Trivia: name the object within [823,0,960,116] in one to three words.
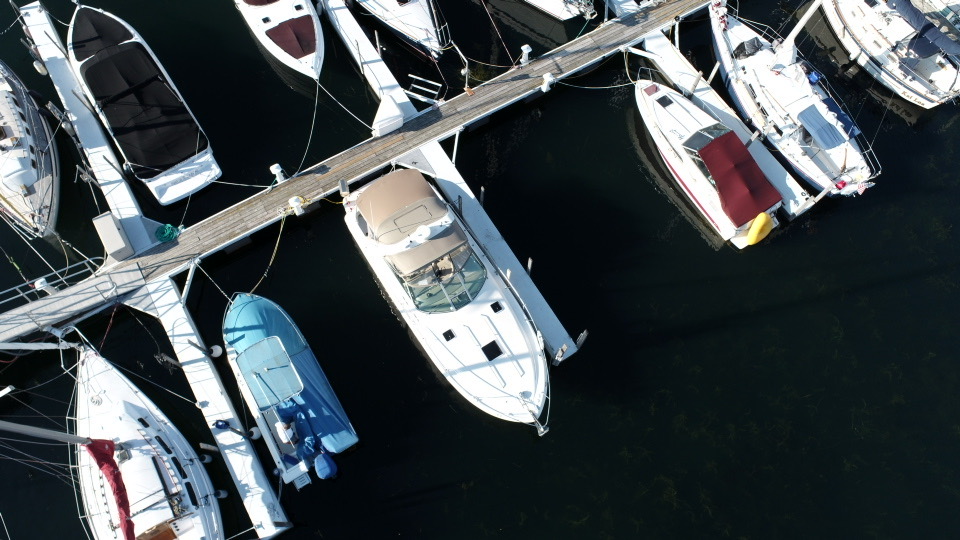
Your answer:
boat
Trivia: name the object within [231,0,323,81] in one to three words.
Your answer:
boat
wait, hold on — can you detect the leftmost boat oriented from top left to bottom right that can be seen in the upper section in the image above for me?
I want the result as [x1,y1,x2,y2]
[68,0,224,214]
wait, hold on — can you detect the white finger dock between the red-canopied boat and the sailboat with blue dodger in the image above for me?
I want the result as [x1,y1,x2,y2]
[640,32,818,219]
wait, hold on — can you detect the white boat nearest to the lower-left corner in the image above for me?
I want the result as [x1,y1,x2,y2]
[0,329,237,540]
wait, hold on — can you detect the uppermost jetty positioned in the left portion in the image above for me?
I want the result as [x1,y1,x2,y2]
[322,0,418,121]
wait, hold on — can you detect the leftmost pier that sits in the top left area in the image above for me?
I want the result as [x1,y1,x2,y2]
[20,1,153,258]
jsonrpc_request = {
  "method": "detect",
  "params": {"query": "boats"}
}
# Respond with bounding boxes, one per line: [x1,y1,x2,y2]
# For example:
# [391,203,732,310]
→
[823,0,960,116]
[0,329,237,540]
[362,0,444,55]
[224,286,358,490]
[68,0,224,214]
[0,57,68,240]
[340,157,552,437]
[639,64,792,251]
[906,0,960,56]
[711,0,908,208]
[524,0,593,34]
[231,0,323,81]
